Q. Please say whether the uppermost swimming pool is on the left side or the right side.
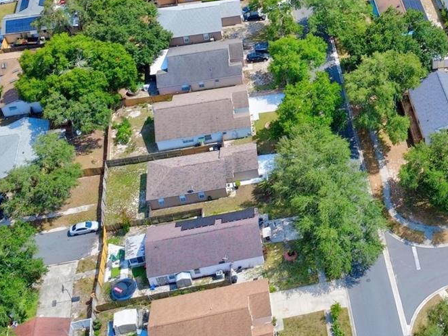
left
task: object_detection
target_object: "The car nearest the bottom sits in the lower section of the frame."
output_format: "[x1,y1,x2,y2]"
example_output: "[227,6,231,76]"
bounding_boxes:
[70,221,99,239]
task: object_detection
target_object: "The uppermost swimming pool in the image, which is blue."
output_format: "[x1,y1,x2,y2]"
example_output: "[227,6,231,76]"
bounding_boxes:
[110,276,139,302]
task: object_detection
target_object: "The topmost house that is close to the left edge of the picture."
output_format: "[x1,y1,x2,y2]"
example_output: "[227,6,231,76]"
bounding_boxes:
[0,0,68,43]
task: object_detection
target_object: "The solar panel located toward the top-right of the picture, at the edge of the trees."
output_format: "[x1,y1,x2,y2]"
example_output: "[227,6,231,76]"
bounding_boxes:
[400,0,426,17]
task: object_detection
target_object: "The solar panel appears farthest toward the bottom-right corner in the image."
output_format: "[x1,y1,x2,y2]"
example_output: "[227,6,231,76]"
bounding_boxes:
[222,208,254,222]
